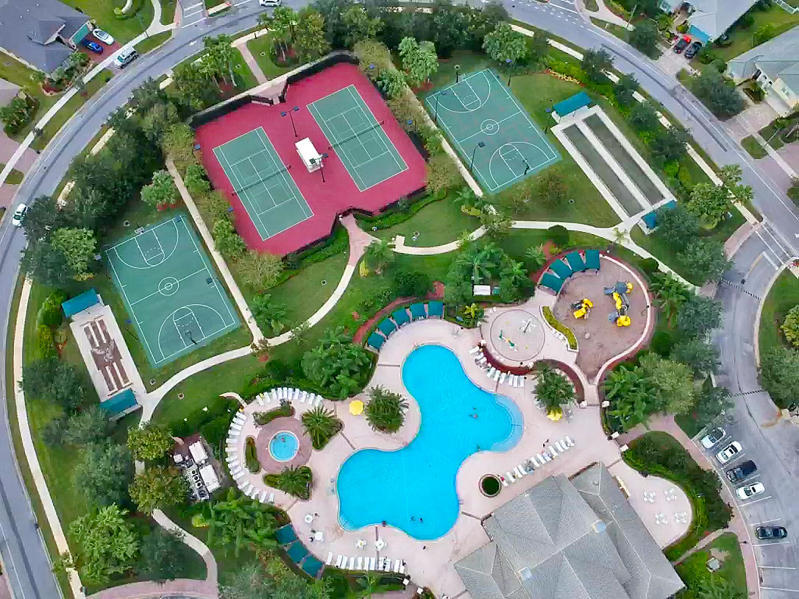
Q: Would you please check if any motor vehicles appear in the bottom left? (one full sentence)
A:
No, there is no motor vehicle in the bottom left.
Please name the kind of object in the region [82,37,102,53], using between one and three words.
car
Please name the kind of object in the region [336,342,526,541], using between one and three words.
swimming pool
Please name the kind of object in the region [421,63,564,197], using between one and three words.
basketball court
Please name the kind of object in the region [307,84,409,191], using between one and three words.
tennis court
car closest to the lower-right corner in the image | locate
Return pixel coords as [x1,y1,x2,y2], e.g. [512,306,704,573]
[758,525,790,539]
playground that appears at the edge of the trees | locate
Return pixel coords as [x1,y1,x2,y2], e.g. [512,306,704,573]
[543,253,652,382]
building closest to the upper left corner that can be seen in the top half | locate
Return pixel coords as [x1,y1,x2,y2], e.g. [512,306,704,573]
[0,0,92,76]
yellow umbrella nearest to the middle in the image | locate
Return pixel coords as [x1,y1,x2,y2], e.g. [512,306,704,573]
[348,399,364,415]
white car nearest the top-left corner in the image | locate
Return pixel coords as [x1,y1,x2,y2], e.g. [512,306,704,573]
[92,27,112,43]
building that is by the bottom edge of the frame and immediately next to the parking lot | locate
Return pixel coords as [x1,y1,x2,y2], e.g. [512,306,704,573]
[454,463,686,599]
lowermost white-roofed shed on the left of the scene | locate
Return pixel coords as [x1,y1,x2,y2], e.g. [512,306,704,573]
[201,465,222,492]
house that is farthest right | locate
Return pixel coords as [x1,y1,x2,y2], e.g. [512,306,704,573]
[725,25,799,108]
